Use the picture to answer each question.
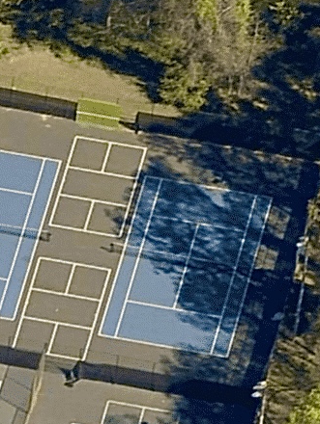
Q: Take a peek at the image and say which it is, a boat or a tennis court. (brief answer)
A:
tennis court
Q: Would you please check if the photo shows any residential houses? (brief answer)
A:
No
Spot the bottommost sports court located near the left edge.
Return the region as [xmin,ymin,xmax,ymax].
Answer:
[14,257,110,360]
